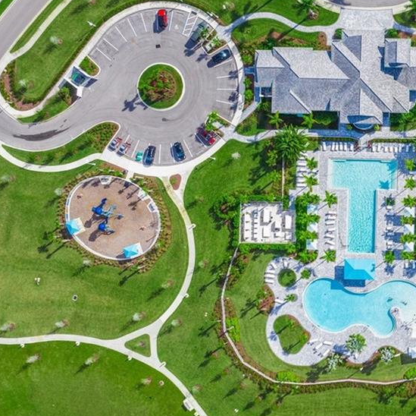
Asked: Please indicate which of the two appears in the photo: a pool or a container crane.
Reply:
pool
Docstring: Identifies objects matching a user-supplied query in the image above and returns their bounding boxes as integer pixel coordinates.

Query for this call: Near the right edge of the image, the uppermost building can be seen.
[252,26,416,132]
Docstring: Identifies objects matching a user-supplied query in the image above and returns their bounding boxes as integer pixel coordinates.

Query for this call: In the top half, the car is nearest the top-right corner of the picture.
[212,49,232,62]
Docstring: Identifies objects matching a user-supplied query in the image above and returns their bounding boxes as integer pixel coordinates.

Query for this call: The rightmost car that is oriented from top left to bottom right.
[199,129,218,146]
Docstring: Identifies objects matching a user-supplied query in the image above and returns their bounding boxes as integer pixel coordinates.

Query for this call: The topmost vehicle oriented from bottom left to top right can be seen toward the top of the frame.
[190,19,209,41]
